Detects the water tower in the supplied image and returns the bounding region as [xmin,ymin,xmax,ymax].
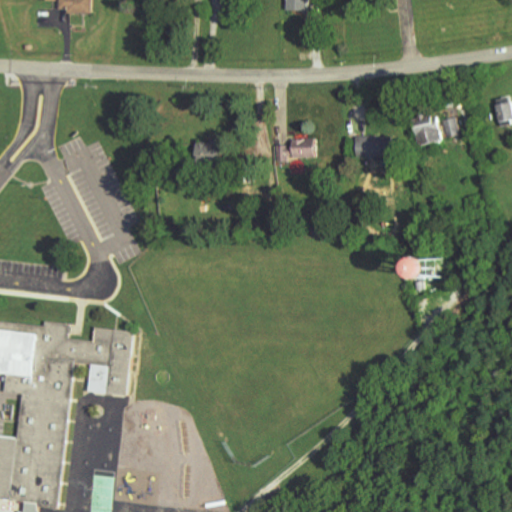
[396,255,444,282]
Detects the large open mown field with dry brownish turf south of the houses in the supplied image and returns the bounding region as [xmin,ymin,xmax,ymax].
[130,242,406,495]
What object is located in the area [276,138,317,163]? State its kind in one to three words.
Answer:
house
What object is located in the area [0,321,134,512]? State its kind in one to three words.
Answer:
building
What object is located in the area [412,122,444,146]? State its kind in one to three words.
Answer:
house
